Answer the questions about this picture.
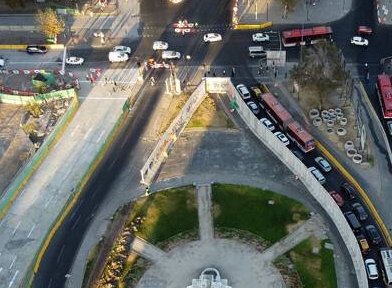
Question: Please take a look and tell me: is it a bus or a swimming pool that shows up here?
bus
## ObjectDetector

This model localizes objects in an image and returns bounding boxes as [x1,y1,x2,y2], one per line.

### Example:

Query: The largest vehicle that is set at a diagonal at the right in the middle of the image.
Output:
[254,89,317,156]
